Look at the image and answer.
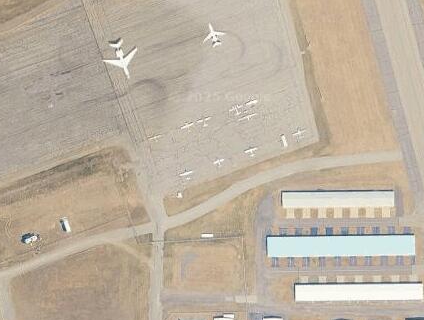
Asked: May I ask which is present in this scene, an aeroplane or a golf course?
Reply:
aeroplane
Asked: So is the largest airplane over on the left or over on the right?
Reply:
left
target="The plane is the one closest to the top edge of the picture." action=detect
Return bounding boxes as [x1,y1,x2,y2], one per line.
[203,24,226,45]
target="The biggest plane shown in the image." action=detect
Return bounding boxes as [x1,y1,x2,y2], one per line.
[104,39,137,76]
